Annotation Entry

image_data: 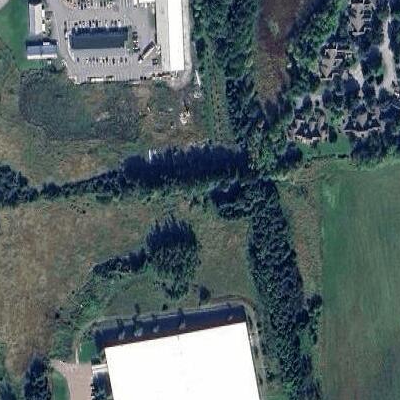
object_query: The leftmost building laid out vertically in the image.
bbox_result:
[29,4,44,36]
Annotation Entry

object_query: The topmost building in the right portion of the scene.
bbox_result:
[347,0,374,32]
